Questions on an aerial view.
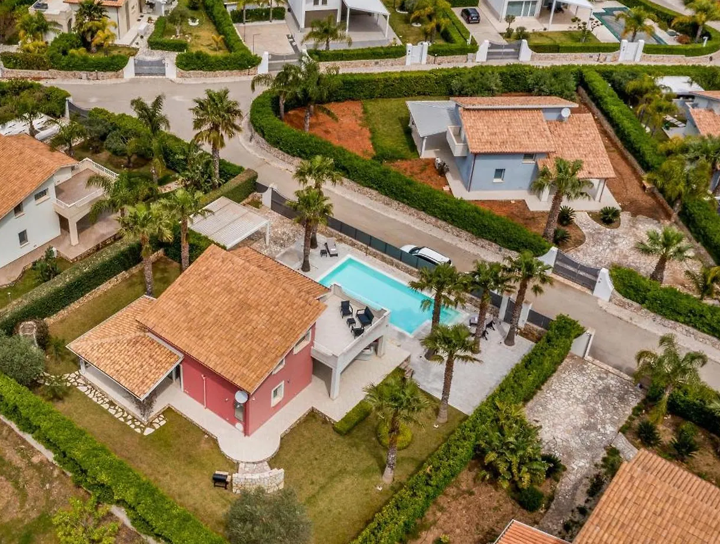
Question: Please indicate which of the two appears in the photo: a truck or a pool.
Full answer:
I can see a pool in this picture.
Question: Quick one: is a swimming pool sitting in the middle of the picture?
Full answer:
Yes, a swimming pool appears in the middle of the picture.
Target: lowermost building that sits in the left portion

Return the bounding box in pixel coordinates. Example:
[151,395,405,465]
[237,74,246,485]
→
[61,243,393,435]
